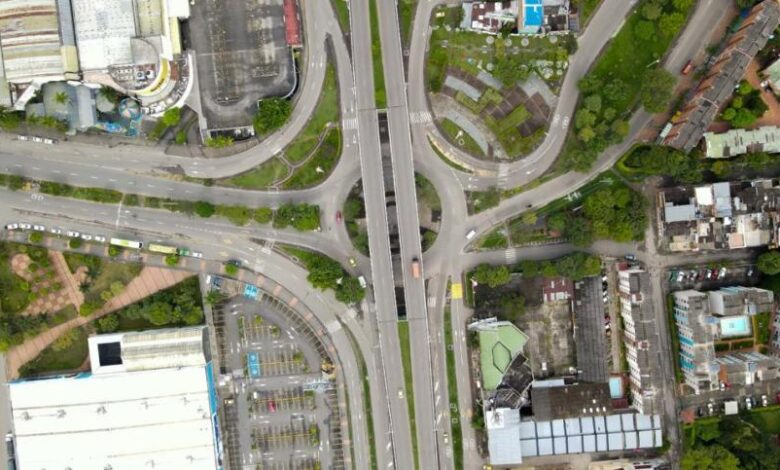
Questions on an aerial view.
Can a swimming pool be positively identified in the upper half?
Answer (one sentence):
Yes, a swimming pool appears in the upper half.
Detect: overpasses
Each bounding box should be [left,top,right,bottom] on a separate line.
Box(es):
[350,0,440,470]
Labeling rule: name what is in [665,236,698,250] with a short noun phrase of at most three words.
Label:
house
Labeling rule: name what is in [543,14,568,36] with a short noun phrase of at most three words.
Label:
house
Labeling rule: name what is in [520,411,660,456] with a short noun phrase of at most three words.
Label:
shed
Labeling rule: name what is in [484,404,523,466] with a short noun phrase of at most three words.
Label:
building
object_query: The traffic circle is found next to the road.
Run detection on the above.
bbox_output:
[330,146,471,285]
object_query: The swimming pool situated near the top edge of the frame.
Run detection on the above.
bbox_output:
[516,0,544,36]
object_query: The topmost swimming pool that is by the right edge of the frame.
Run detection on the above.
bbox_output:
[719,315,752,337]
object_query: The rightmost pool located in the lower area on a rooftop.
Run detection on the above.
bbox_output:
[609,373,631,399]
